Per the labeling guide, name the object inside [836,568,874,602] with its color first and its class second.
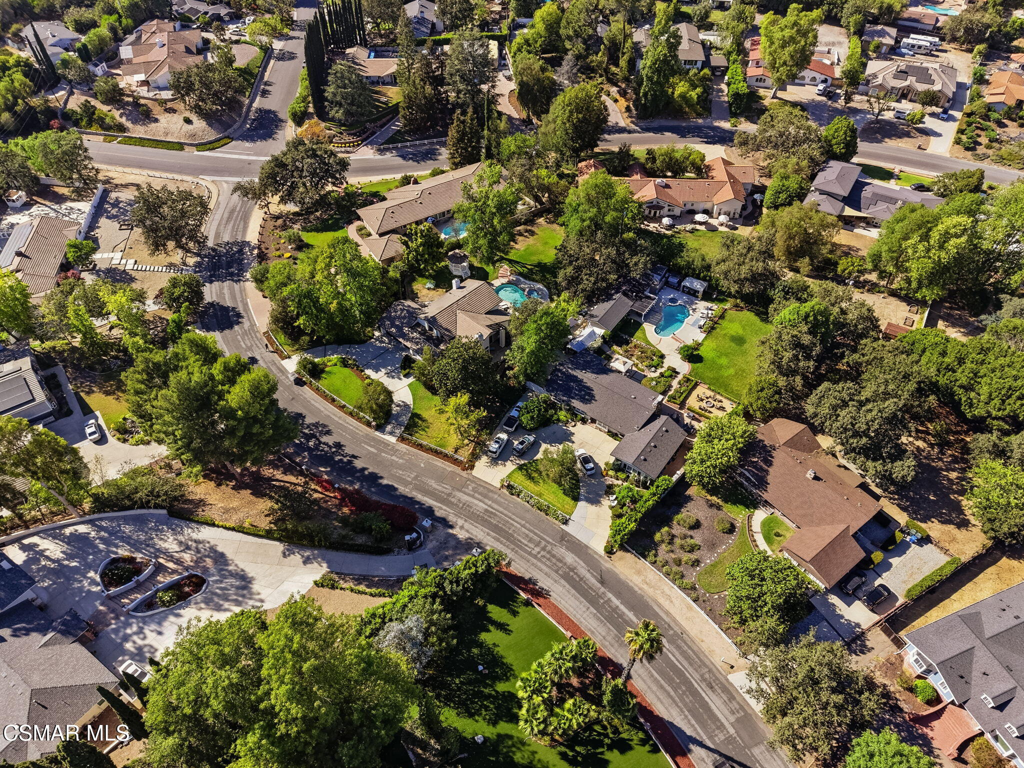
black car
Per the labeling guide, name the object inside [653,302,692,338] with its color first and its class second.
blue swimming pool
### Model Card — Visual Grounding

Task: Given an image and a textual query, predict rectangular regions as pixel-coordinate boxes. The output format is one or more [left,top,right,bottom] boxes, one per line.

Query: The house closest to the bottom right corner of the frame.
[892,596,1024,768]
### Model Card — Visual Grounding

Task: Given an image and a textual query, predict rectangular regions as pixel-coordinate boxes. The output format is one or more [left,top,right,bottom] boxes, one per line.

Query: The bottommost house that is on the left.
[0,547,121,768]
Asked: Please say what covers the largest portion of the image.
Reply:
trees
